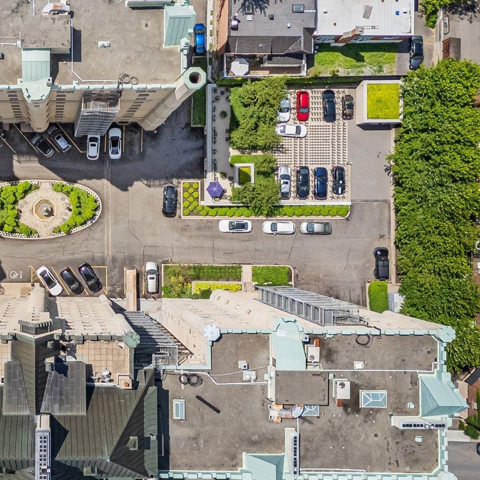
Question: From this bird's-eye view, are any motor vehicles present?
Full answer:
Yes, a motor vehicle is visible in the scene.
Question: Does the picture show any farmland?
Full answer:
No, there is no farmland in the image.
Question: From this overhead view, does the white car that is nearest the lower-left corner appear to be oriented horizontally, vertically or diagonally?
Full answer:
In this picture, the white car that is nearest the lower-left corner lies diagonally.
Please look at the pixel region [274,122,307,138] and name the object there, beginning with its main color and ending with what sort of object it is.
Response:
white car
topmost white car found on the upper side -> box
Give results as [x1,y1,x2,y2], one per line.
[276,92,292,121]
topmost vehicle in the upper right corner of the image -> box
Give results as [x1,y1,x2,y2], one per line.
[407,38,425,71]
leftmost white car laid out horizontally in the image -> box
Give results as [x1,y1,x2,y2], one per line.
[218,219,251,234]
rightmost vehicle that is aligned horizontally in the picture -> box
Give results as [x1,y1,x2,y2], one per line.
[299,222,332,236]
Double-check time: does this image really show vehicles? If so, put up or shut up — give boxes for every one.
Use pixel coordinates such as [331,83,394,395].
[144,261,159,294]
[86,133,101,162]
[294,91,311,122]
[29,131,55,161]
[58,266,84,298]
[276,167,292,199]
[295,167,311,199]
[313,167,329,199]
[331,166,345,195]
[276,92,292,121]
[321,91,336,122]
[46,121,72,153]
[76,262,102,294]
[373,248,389,280]
[107,127,122,160]
[274,122,307,138]
[162,186,178,218]
[35,264,64,298]
[218,219,251,234]
[299,222,332,236]
[261,221,295,235]
[341,95,354,120]
[407,38,425,71]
